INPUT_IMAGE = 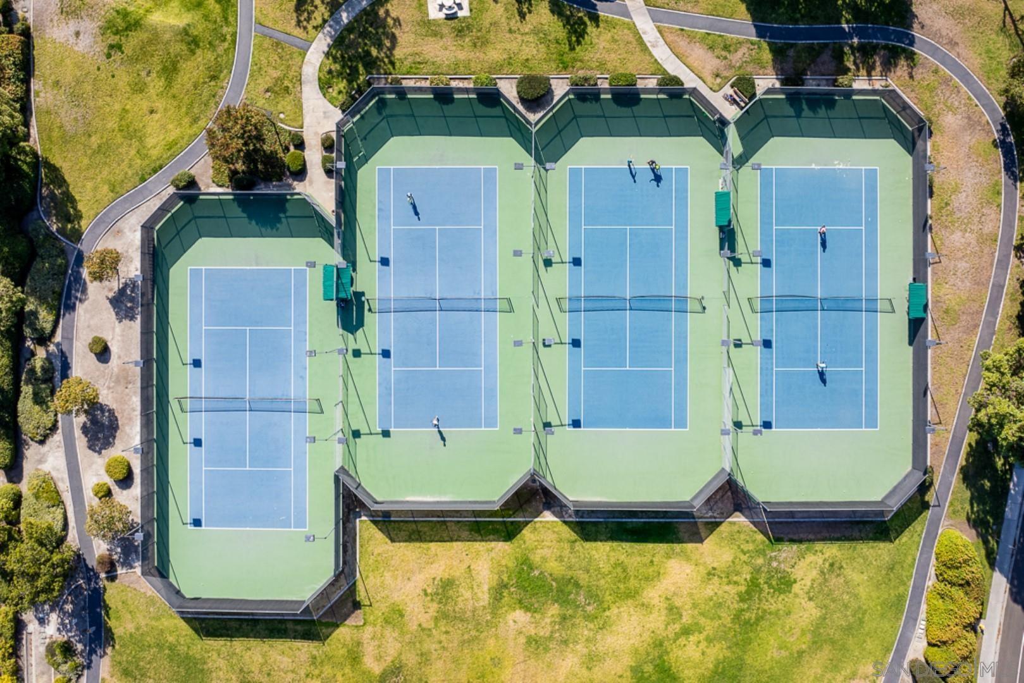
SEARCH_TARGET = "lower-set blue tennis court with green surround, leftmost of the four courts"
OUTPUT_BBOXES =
[154,198,342,602]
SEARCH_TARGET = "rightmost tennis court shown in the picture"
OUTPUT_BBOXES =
[723,97,912,505]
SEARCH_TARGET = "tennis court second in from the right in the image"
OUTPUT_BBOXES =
[533,97,723,503]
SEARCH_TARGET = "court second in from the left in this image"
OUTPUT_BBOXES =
[342,97,533,503]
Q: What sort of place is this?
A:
sports ground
